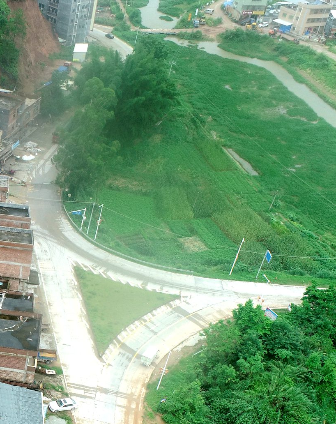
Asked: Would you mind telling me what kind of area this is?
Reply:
residential area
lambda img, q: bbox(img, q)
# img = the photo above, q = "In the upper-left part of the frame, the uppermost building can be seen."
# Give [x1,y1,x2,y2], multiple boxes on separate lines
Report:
[43,0,99,46]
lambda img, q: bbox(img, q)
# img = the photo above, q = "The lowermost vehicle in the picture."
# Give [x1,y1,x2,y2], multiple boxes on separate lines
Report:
[48,398,80,414]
